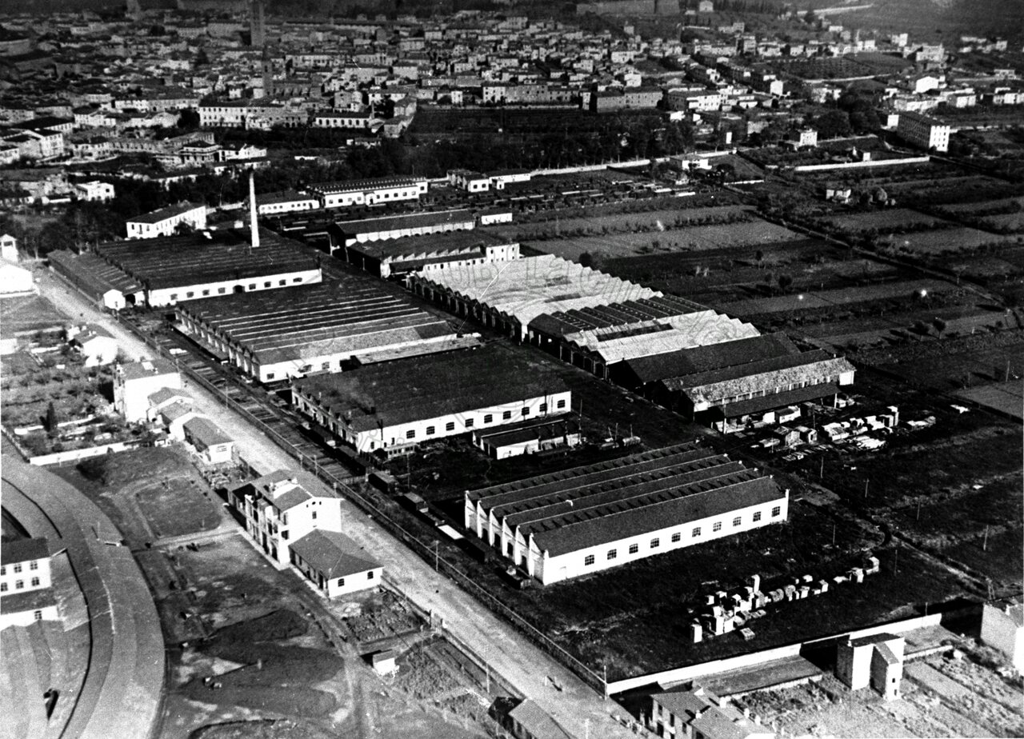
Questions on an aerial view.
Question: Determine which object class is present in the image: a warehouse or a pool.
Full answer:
I can see a warehouse in this picture.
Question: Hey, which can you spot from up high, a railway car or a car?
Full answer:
The image shows a railway car.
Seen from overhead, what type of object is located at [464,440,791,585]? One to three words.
warehouse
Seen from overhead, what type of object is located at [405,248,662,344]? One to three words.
building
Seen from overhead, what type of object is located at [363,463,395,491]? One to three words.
rail car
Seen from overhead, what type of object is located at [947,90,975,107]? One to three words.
house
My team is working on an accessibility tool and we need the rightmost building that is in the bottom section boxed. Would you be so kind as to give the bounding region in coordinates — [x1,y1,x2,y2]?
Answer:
[979,603,1024,668]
